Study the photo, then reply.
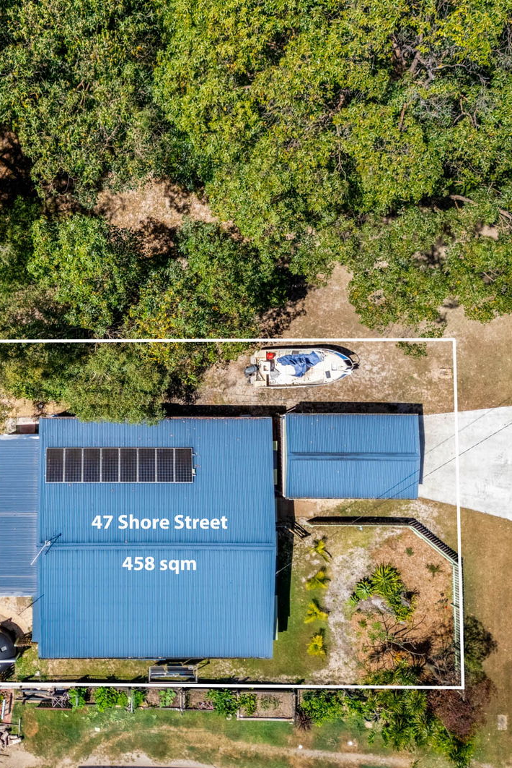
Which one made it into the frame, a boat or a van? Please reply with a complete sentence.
This aerial view contains a boat.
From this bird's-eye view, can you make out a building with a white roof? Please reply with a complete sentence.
No, the frame has no building with a white roof in it.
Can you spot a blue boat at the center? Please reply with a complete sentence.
No, at the center there is no blue boat.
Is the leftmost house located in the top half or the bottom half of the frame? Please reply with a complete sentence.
Seen from above, the leftmost house lies in the bottom half of the view.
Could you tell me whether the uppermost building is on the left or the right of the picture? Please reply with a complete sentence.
You can find the uppermost building on the right side of the picture.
